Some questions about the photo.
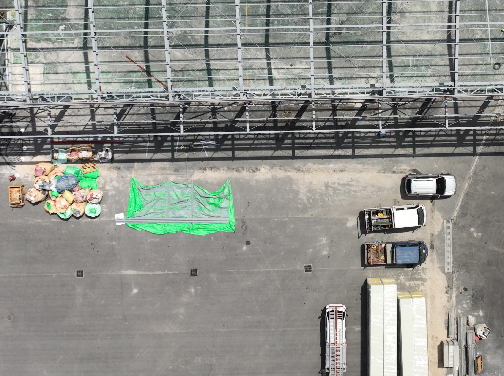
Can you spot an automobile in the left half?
No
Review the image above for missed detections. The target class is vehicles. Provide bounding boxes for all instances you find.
[362,202,427,235]
[322,304,349,376]
[364,239,428,267]
[403,172,456,200]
